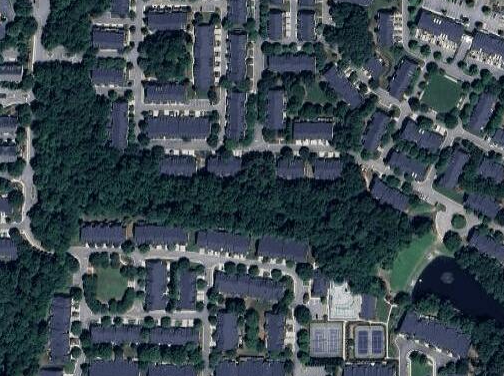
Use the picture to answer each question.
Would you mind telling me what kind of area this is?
residential area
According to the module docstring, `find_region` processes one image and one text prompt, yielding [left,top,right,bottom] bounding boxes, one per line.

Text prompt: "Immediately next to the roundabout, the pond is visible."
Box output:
[411,254,504,331]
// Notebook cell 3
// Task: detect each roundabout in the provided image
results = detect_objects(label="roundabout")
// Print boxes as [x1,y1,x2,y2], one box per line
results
[437,199,475,242]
